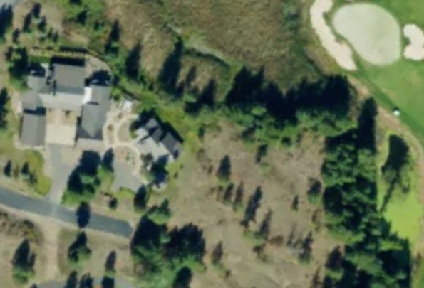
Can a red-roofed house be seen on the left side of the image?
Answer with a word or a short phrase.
No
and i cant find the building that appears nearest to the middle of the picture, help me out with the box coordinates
[134,118,184,162]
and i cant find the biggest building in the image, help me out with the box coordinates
[19,63,111,147]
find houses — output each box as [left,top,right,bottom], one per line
[134,118,184,162]
[19,63,111,147]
